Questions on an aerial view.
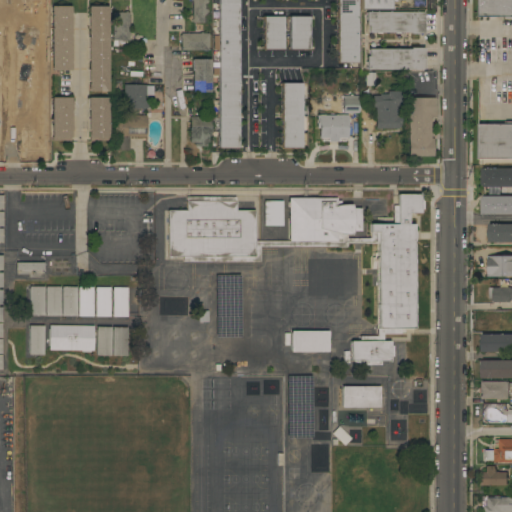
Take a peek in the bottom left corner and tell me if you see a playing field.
Yes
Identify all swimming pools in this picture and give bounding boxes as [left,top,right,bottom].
[148,120,162,146]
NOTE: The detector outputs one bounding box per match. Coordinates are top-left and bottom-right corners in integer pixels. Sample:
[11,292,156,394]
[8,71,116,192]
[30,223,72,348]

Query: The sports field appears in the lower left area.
[25,376,196,512]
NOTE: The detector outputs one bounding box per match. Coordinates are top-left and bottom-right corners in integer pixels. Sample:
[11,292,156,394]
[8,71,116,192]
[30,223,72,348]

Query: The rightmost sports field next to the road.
[332,446,430,512]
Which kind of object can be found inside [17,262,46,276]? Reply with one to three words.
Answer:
building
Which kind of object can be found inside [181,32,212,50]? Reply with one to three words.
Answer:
house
